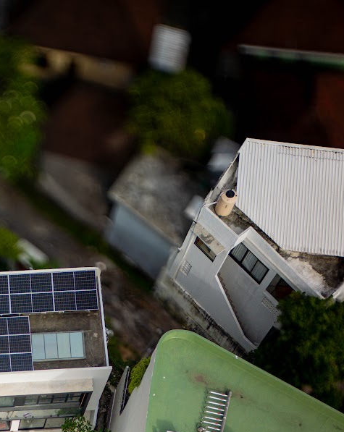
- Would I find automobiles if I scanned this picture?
No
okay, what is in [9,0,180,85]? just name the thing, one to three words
house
